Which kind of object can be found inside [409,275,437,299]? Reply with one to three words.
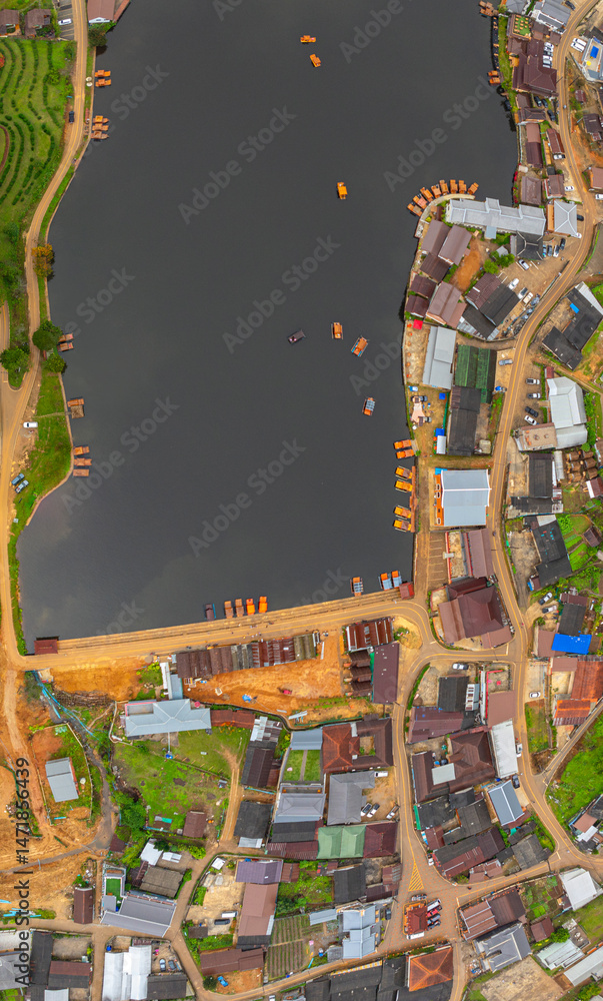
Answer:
house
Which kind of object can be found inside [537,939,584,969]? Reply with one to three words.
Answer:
shed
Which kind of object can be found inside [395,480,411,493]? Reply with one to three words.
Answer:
boat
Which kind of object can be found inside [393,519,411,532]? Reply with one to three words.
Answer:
boat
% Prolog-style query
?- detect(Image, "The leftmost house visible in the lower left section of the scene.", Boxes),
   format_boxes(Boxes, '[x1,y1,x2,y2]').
[0,948,30,991]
